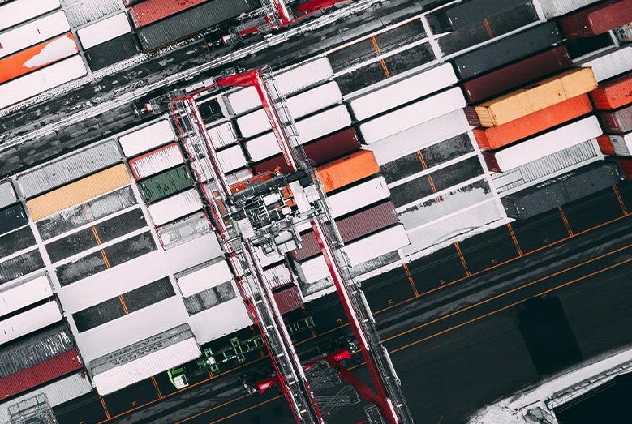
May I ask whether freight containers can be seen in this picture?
Yes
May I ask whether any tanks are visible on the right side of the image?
No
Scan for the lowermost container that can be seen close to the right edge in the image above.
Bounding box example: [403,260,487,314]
[502,160,621,220]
